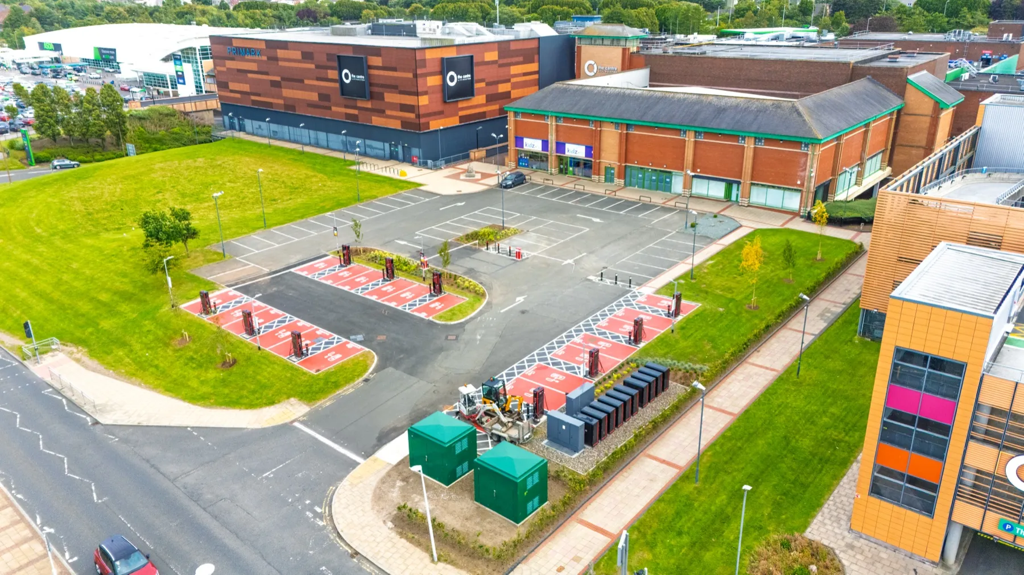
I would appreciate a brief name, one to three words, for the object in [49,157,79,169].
vehicle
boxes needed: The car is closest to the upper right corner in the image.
[502,168,532,185]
